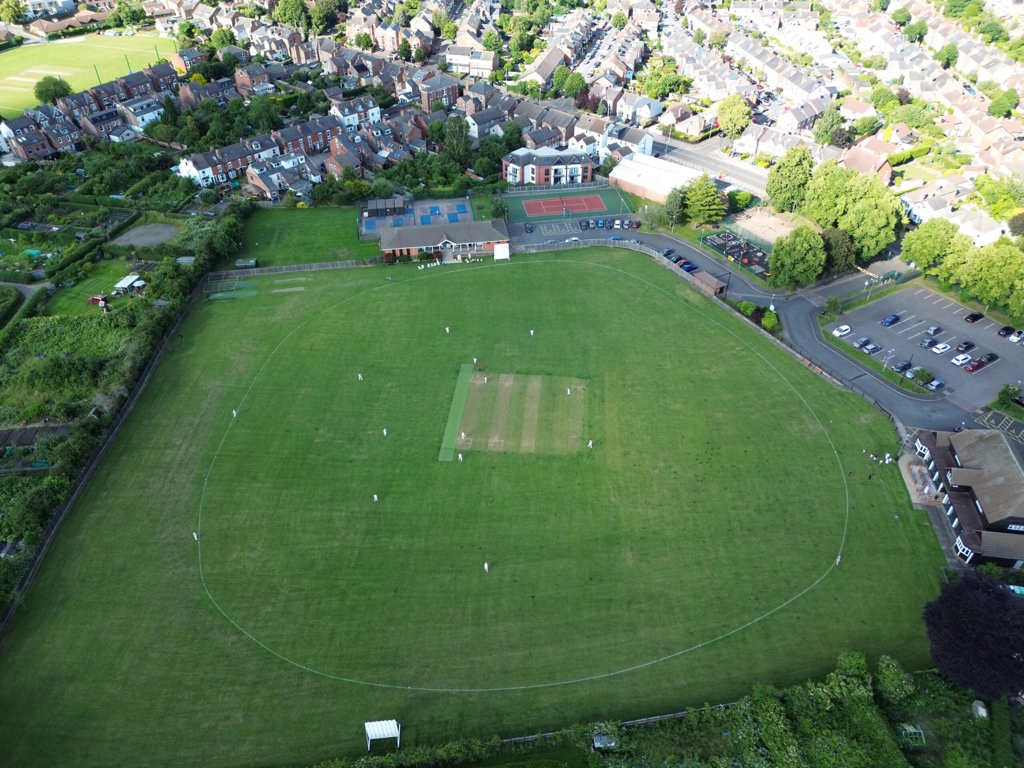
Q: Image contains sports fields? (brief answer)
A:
Yes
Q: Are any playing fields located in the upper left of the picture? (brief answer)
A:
Yes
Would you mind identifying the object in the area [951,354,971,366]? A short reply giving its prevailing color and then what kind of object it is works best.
white vehicle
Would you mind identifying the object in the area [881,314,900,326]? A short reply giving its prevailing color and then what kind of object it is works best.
blue vehicle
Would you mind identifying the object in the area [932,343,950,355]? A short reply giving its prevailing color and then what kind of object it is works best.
white vehicle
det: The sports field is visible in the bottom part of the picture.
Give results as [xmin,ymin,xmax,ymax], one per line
[0,206,944,768]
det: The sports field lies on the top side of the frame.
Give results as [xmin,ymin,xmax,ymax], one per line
[0,34,177,124]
